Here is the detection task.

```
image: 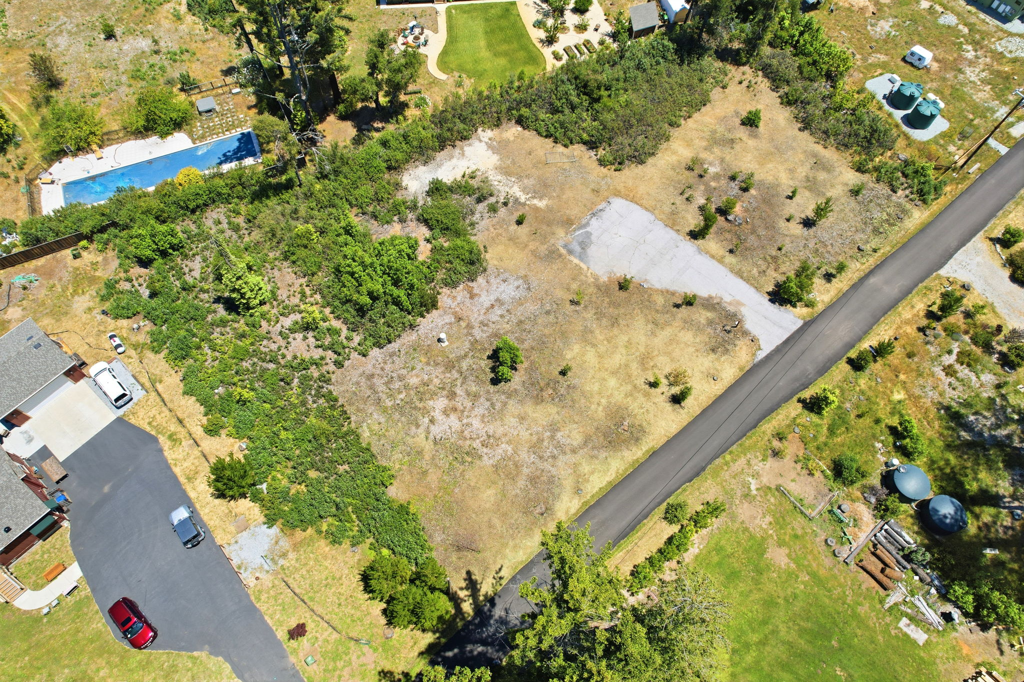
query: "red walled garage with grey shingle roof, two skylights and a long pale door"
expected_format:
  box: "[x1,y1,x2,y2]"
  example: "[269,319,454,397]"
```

[0,320,83,441]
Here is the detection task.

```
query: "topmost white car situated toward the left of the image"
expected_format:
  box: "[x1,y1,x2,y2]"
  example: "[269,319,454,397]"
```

[89,358,132,408]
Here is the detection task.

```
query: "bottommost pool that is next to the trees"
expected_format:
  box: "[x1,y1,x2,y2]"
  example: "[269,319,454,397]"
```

[60,128,258,207]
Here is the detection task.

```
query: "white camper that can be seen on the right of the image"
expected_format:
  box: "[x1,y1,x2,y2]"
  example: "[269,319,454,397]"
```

[906,44,936,69]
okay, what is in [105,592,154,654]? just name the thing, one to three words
car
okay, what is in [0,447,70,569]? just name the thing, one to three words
house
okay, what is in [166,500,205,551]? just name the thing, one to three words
car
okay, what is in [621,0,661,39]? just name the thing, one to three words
shed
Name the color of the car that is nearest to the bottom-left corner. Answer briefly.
red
